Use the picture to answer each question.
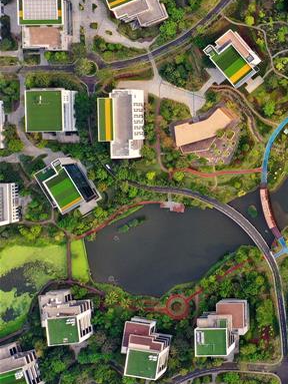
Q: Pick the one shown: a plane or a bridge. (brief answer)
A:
bridge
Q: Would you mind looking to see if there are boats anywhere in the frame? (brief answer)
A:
No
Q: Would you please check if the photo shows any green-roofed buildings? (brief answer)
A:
Yes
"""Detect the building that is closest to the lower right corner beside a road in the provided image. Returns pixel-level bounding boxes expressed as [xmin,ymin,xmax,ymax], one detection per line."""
[196,296,254,357]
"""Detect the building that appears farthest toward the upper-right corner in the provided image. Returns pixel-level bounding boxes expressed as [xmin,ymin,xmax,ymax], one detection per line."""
[203,29,264,90]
